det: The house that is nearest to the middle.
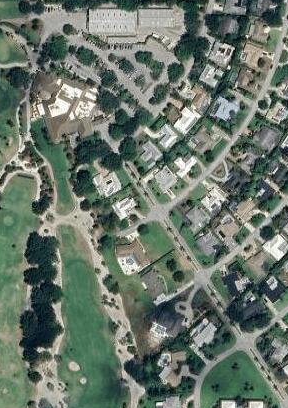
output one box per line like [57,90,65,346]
[111,195,139,221]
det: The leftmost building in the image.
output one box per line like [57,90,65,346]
[27,67,97,143]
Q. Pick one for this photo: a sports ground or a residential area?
residential area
